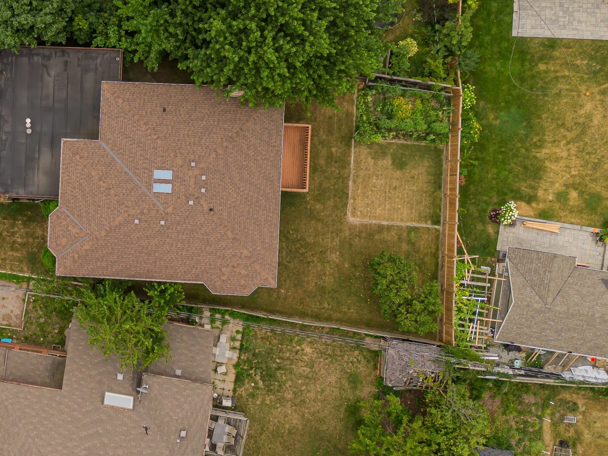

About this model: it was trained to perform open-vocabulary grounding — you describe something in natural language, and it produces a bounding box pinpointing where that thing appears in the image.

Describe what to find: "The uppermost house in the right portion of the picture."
[479,246,608,359]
